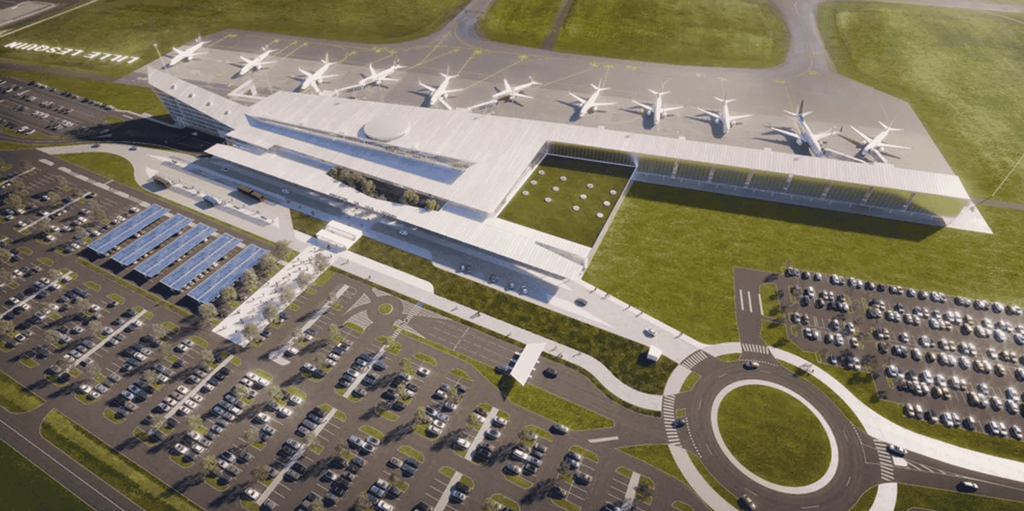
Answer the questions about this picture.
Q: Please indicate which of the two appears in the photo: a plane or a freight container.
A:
plane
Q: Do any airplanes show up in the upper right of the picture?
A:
Yes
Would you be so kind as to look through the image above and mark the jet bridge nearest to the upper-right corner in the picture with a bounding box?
[868,146,890,166]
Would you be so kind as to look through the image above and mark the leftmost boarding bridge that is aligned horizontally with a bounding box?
[334,82,367,98]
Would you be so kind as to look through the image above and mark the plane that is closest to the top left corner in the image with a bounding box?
[168,32,210,65]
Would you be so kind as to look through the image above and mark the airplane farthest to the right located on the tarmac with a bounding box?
[852,118,911,155]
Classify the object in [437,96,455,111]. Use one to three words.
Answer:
jet bridge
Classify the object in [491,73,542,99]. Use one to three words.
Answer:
airplane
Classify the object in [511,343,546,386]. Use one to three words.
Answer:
toll station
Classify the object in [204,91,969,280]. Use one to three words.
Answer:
building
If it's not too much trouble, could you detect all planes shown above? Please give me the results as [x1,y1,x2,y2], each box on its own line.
[698,89,753,134]
[420,66,465,105]
[491,73,542,99]
[300,53,340,89]
[632,85,684,125]
[238,42,278,75]
[570,78,618,117]
[357,56,406,84]
[770,97,842,157]
[168,32,210,65]
[852,118,911,155]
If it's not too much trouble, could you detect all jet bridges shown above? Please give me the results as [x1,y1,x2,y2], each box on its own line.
[824,145,868,163]
[437,96,455,111]
[868,146,890,166]
[334,82,367,98]
[466,97,500,112]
